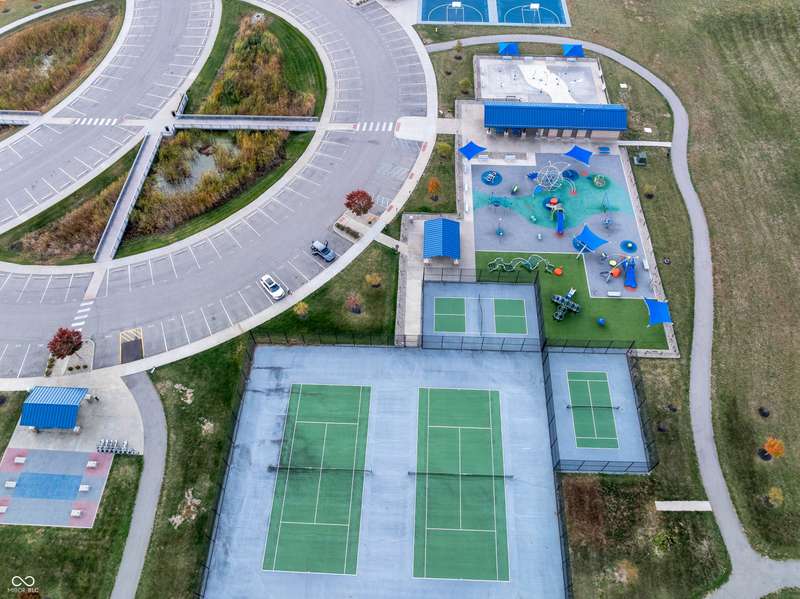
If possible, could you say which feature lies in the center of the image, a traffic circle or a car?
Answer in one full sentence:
There is a car in the center of the image.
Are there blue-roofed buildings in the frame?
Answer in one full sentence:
Yes, the frame does contain a blue-roofed building.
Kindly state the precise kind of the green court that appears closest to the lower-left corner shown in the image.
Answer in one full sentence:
In the photo, the green court that appears closest to the lower-left corner shows up as a tennis court.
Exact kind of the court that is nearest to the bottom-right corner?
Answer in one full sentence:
What you see as the court that is nearest to the bottom-right corner is a tennis court.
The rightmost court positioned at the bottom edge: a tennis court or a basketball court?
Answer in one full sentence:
I'd say the rightmost court positioned at the bottom edge is a tennis court.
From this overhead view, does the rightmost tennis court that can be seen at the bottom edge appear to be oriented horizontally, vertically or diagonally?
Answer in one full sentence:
In this picture, the rightmost tennis court that can be seen at the bottom edge lies vertically.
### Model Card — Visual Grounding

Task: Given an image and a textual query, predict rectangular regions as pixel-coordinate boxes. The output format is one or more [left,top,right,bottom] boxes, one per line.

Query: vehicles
[303,238,336,262]
[261,274,287,302]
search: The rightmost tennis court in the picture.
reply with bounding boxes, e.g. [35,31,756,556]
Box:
[566,370,620,449]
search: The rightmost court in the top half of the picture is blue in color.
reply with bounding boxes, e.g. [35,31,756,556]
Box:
[498,0,566,25]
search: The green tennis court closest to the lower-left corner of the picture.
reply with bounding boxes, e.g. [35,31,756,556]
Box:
[262,383,373,575]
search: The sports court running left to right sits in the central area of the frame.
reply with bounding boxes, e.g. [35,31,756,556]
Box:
[434,291,528,336]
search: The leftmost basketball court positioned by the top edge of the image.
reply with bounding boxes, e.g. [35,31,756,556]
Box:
[422,0,488,23]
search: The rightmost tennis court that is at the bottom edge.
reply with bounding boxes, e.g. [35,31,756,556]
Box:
[408,387,513,582]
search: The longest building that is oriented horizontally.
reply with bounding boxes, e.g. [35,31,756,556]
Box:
[484,104,629,141]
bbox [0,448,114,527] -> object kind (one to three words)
sports court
